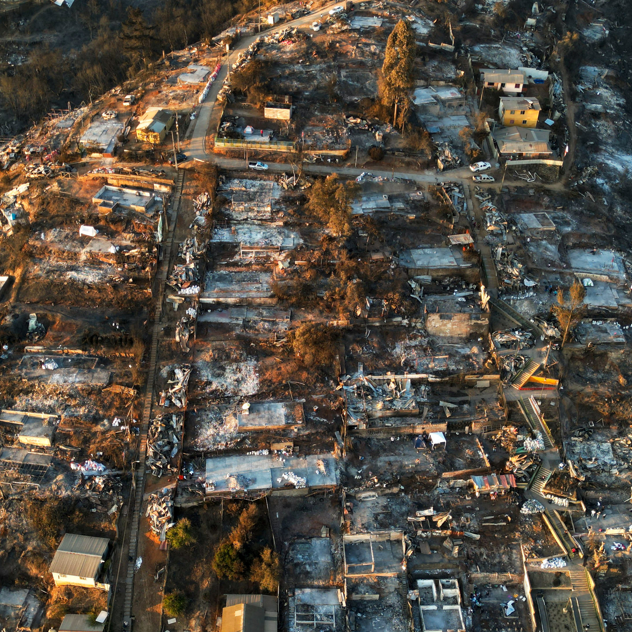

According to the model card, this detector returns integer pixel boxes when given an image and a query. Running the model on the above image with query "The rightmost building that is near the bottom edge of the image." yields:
[221,594,277,632]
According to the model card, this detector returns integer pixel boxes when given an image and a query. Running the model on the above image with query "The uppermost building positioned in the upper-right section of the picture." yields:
[479,67,528,100]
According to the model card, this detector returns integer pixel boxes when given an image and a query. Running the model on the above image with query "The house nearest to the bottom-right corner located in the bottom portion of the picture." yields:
[470,475,516,499]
